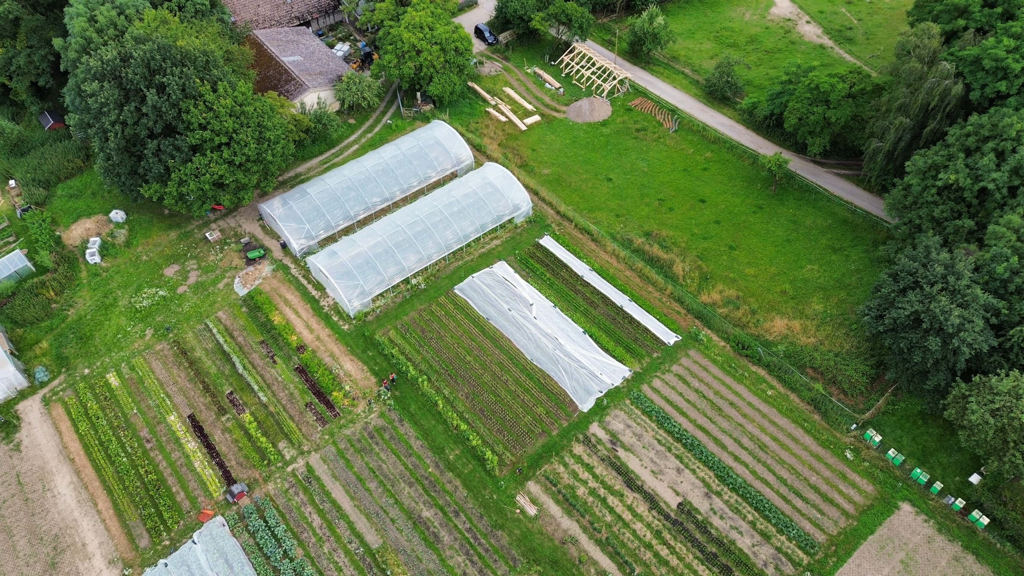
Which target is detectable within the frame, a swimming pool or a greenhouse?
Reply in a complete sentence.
It is a greenhouse that can be seen here.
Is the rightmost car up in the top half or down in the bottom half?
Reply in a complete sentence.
The rightmost car sits in the top half of the picture.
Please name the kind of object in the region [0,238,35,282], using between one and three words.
greenhouse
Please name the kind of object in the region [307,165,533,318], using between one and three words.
greenhouse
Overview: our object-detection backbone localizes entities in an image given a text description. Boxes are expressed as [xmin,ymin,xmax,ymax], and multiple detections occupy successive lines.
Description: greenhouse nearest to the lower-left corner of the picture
[0,350,31,404]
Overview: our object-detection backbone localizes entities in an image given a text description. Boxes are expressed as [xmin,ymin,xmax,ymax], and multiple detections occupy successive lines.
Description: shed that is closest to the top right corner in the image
[554,41,642,103]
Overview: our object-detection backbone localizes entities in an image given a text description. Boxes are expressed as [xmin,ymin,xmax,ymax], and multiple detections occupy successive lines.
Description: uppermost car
[473,23,498,45]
